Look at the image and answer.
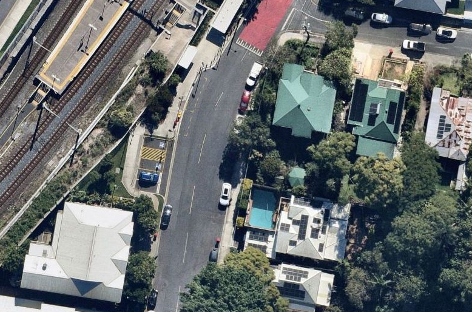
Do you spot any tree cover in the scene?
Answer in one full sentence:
Yes, there is tree cover in the image.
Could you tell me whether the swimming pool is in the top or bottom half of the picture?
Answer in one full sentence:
Seen from above, the swimming pool lies in the bottom half of the view.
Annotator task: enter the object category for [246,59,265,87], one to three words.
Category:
vehicle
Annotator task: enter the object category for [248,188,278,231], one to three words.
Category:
swimming pool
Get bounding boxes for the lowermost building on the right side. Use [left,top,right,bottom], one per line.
[278,262,336,312]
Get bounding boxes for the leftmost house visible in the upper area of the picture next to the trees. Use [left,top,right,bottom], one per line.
[273,61,337,139]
